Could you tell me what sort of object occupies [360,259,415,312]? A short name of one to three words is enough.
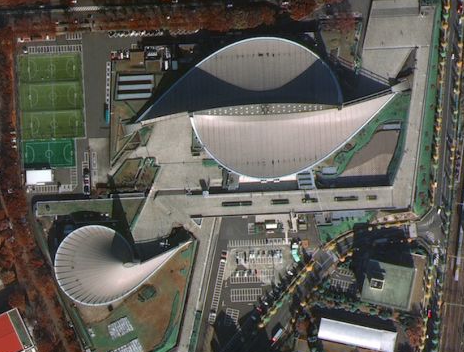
building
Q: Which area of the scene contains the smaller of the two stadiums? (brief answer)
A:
bottom left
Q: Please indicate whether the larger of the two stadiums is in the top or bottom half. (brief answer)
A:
top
